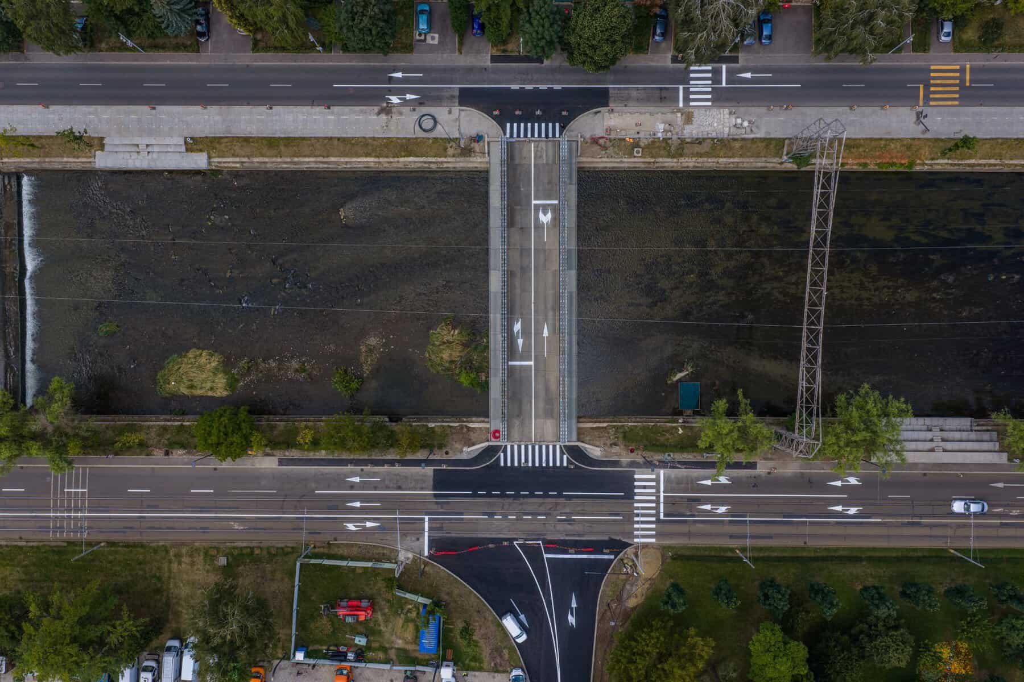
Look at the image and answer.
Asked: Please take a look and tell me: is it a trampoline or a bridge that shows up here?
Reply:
bridge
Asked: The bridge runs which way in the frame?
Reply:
up and down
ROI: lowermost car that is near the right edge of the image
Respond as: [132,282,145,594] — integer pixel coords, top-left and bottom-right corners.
[949,499,987,515]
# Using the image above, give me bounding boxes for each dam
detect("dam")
[3,172,25,412]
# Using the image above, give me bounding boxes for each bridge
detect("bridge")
[487,134,578,446]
